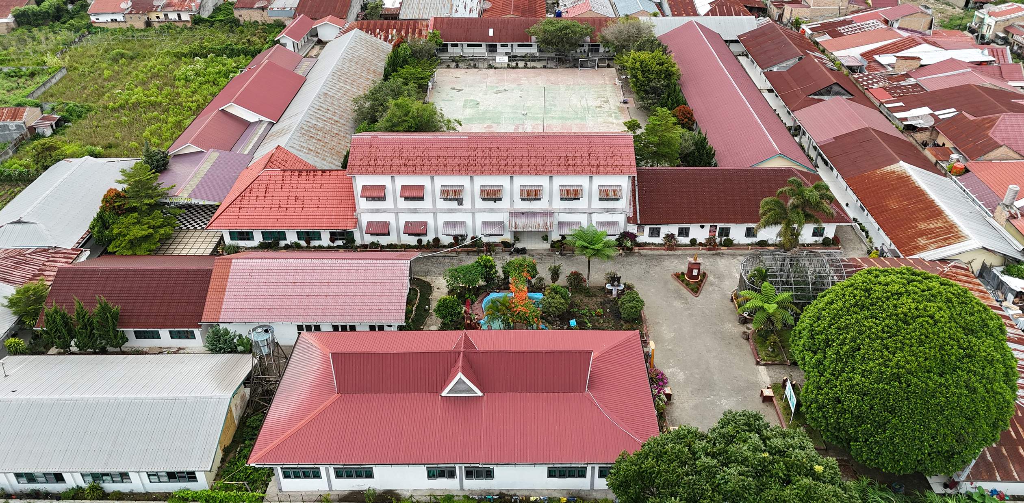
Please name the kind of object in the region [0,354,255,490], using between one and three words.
building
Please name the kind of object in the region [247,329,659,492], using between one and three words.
building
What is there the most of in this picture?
buildings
